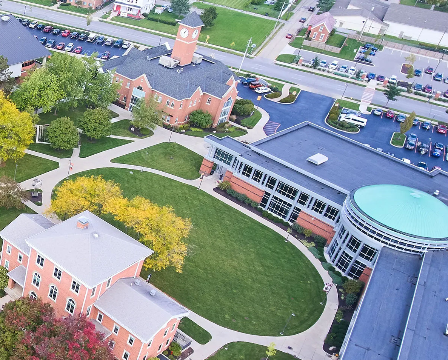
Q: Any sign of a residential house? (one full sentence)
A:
Yes, you can see a residential house in this photo.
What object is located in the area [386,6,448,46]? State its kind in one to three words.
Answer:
building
